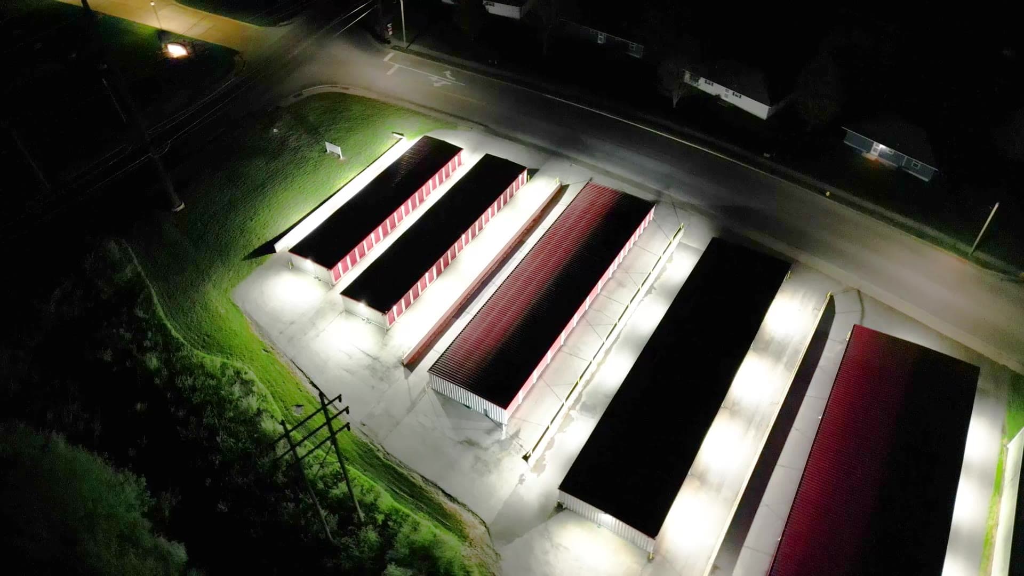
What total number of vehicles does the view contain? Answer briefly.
zero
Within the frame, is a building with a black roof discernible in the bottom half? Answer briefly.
Yes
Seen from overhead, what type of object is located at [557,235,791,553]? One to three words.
building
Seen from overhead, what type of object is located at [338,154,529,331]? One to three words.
building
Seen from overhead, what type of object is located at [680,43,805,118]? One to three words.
house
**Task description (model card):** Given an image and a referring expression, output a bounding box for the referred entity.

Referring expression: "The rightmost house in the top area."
[844,103,969,181]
